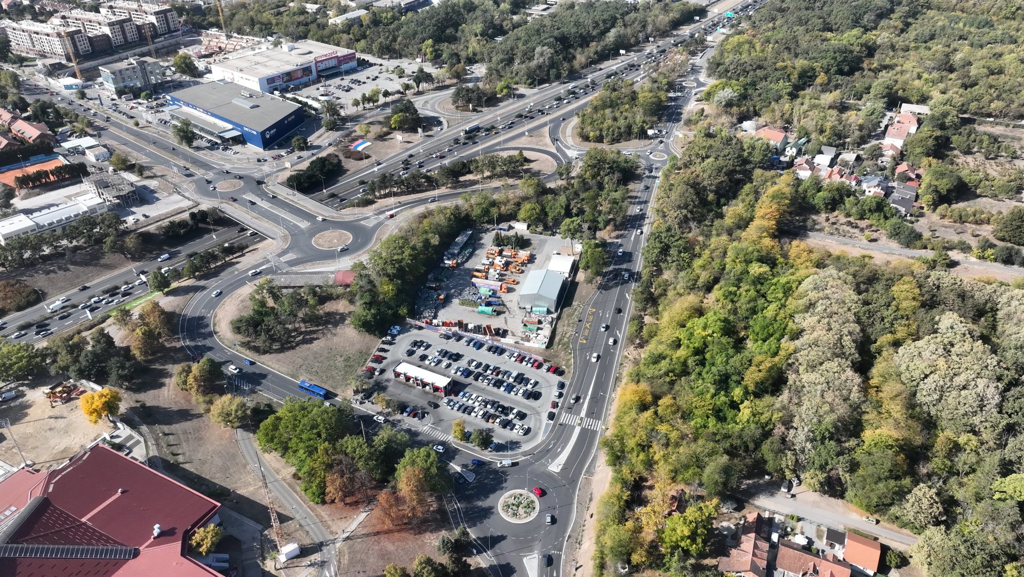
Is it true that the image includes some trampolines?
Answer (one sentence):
No, I can see no trampoline in this picture.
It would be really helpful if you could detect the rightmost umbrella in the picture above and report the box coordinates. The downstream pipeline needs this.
[793,533,809,547]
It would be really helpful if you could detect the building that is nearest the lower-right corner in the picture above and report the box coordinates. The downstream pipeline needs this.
[841,531,881,577]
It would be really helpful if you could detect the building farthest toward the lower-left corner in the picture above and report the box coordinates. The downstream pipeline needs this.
[0,442,228,577]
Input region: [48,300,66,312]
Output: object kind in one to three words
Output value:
vehicle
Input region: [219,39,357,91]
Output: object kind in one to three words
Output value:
building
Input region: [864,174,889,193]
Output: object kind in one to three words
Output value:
house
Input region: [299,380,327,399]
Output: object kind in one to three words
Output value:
vehicle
